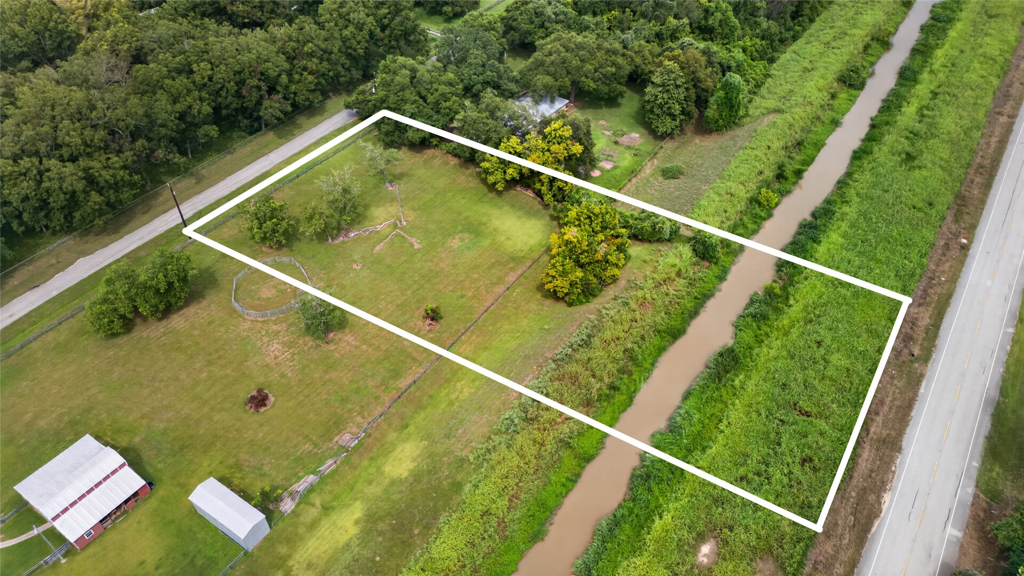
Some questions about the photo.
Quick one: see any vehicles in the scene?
No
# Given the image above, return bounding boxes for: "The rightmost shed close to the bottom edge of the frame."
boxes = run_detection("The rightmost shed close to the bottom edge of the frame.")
[192,480,270,551]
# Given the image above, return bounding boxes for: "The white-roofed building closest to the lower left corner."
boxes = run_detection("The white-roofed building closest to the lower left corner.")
[12,433,151,550]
